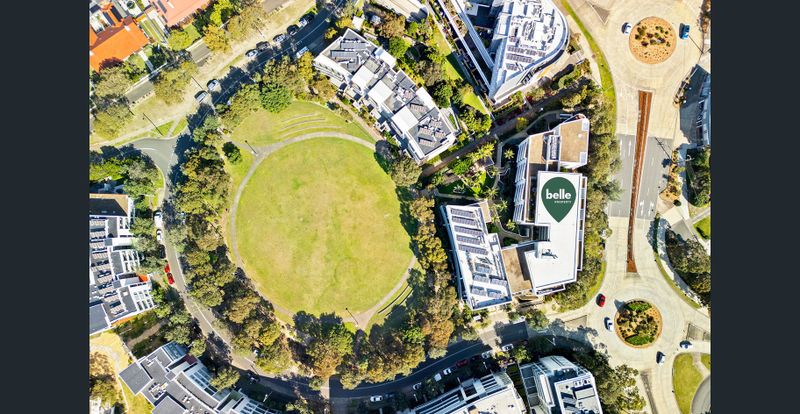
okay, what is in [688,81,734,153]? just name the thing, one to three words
building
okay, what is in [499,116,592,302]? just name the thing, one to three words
building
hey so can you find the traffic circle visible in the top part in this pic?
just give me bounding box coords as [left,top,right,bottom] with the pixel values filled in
[629,16,676,63]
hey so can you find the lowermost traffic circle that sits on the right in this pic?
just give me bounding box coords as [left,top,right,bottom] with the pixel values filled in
[616,302,661,348]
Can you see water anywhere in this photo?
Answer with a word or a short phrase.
No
